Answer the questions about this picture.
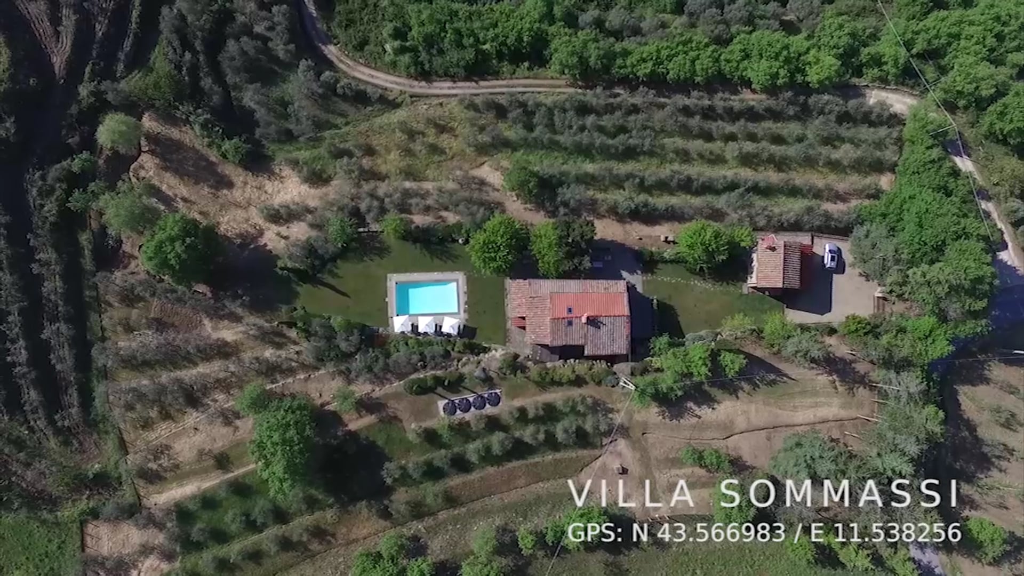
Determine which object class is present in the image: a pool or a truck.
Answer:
pool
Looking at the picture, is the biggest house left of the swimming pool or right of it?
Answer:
to the right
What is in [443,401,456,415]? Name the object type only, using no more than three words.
umbrella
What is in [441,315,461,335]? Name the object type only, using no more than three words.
umbrella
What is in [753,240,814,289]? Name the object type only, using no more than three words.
shed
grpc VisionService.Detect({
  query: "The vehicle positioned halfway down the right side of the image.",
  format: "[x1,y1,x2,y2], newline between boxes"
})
[823,243,838,271]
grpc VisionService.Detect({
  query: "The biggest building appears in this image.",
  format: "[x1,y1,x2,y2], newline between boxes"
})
[509,279,632,356]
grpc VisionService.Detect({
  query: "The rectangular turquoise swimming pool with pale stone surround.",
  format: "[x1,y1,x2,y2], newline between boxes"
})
[387,272,468,335]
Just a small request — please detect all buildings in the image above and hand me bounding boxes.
[753,240,814,289]
[509,279,632,356]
